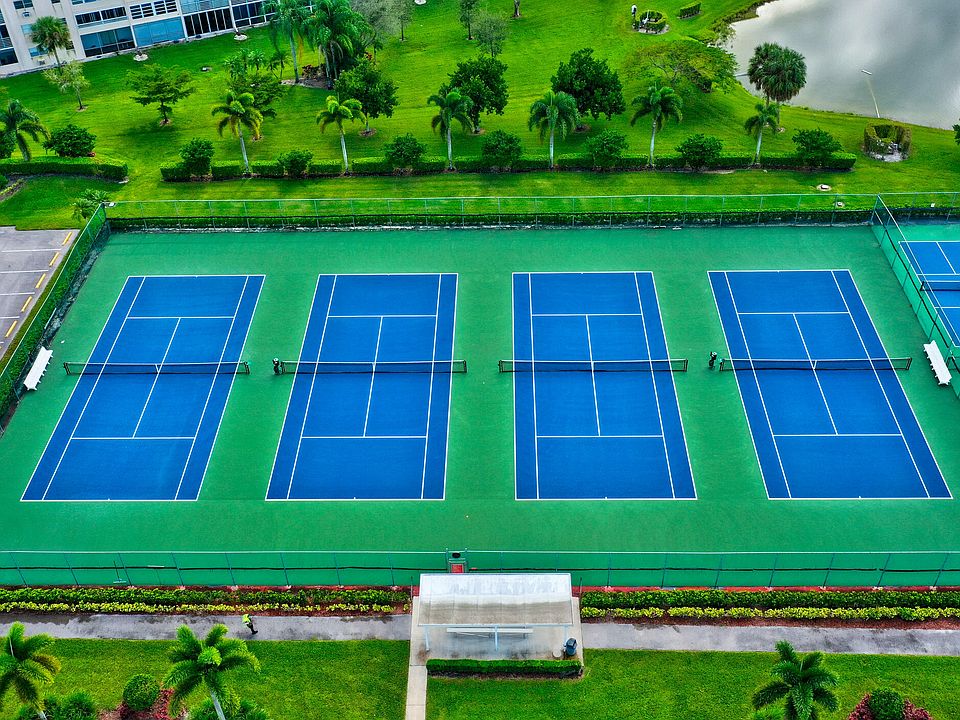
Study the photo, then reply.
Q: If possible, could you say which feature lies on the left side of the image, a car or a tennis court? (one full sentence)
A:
What appears on the left side of the image is a tennis court.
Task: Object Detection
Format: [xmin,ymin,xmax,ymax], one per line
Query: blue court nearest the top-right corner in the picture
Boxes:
[899,241,960,346]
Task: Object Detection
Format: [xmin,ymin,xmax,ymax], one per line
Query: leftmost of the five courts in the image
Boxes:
[21,275,265,501]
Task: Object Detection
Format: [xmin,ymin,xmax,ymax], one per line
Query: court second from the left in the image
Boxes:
[266,274,458,500]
